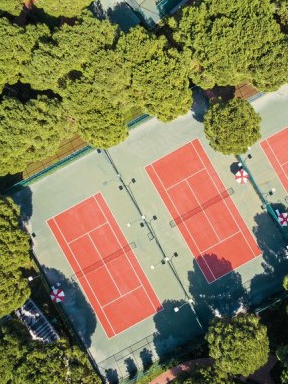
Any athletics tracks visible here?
No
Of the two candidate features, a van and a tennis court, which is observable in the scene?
tennis court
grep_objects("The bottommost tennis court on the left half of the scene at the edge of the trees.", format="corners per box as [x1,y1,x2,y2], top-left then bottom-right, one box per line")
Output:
[6,146,204,384]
